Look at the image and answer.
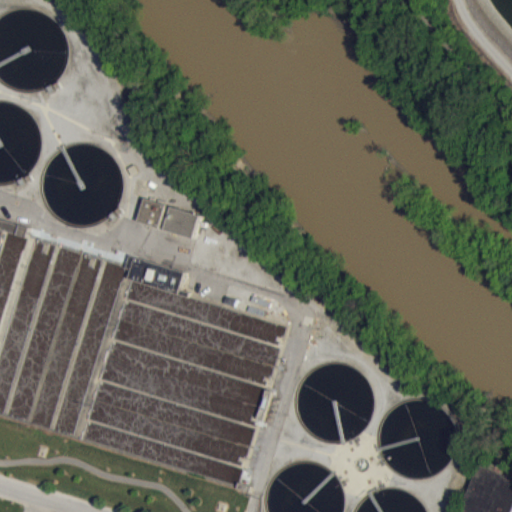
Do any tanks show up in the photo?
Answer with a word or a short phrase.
Yes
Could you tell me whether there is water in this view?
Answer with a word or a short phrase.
Yes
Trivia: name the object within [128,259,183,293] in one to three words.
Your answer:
building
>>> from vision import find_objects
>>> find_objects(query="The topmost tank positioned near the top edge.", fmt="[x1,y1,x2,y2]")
[0,4,72,97]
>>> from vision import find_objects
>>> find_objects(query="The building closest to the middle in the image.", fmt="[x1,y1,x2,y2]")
[162,207,202,238]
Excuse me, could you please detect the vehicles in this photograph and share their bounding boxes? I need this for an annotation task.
[196,282,201,292]
[200,286,211,297]
[222,296,241,306]
[1,206,10,218]
[18,218,29,224]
